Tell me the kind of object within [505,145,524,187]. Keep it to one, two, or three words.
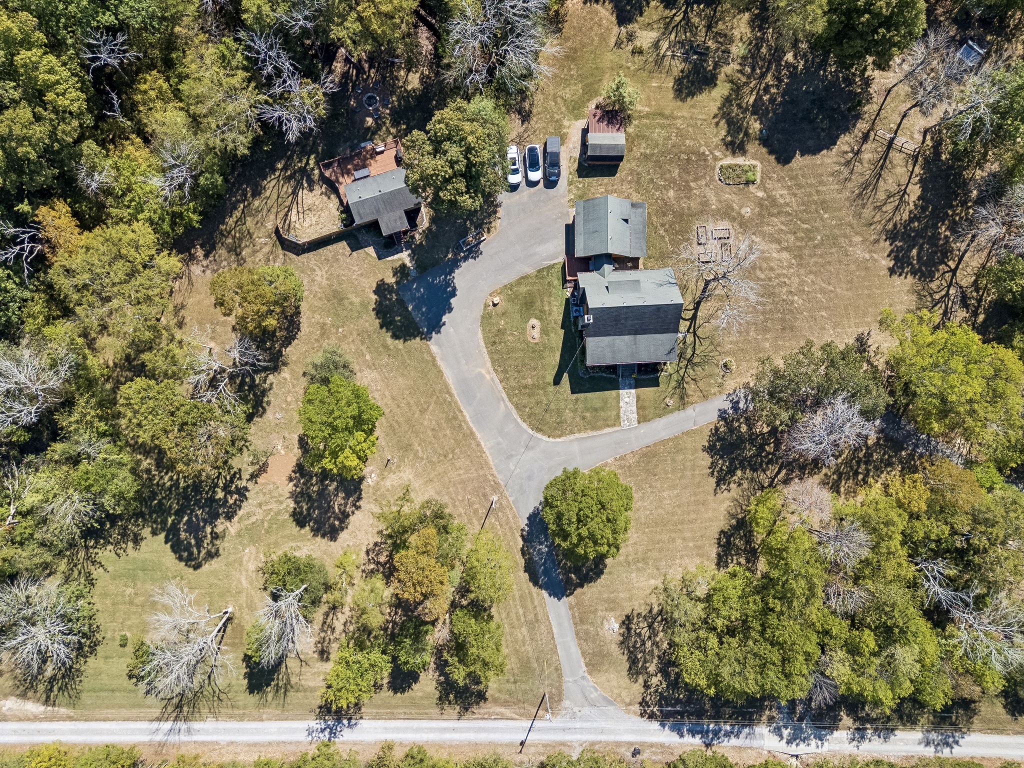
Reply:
car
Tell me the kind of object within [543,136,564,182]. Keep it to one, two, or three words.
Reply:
truck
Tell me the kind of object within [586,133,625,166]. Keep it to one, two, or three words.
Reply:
shed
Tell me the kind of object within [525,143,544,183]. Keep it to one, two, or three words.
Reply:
car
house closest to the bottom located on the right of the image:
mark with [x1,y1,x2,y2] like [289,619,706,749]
[575,267,684,376]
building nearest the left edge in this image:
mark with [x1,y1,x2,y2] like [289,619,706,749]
[346,166,421,248]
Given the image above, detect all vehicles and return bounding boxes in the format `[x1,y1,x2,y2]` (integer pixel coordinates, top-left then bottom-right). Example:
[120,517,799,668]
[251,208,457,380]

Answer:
[543,136,564,182]
[505,145,524,187]
[525,143,544,183]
